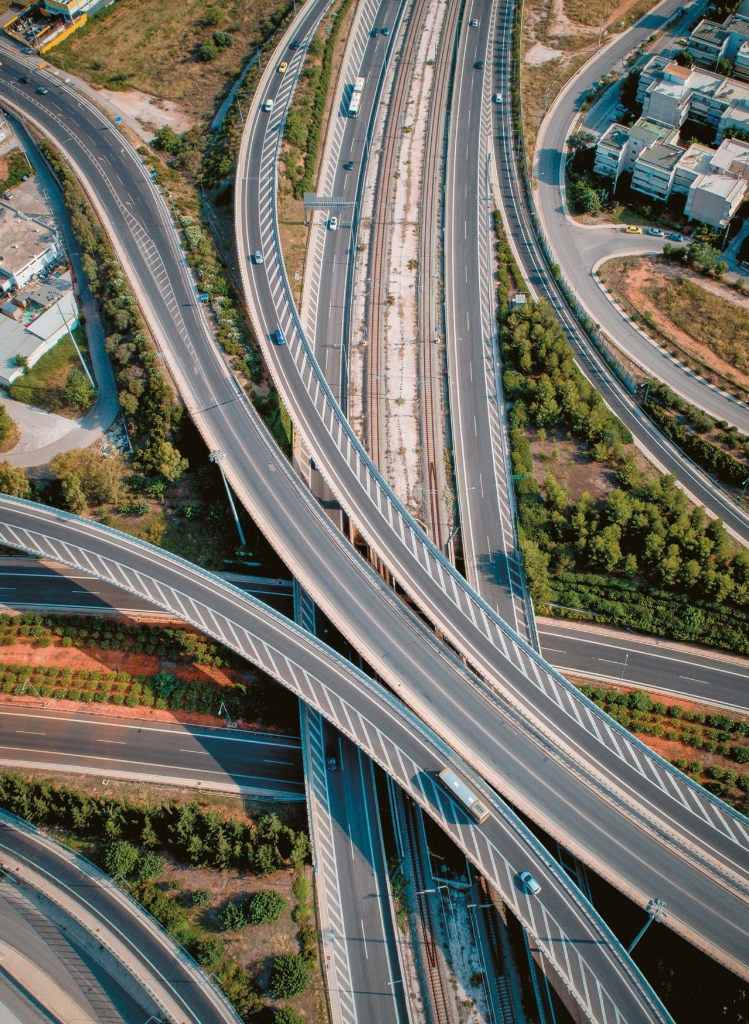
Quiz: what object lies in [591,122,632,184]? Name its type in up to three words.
building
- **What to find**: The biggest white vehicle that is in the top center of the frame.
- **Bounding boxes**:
[348,76,367,119]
